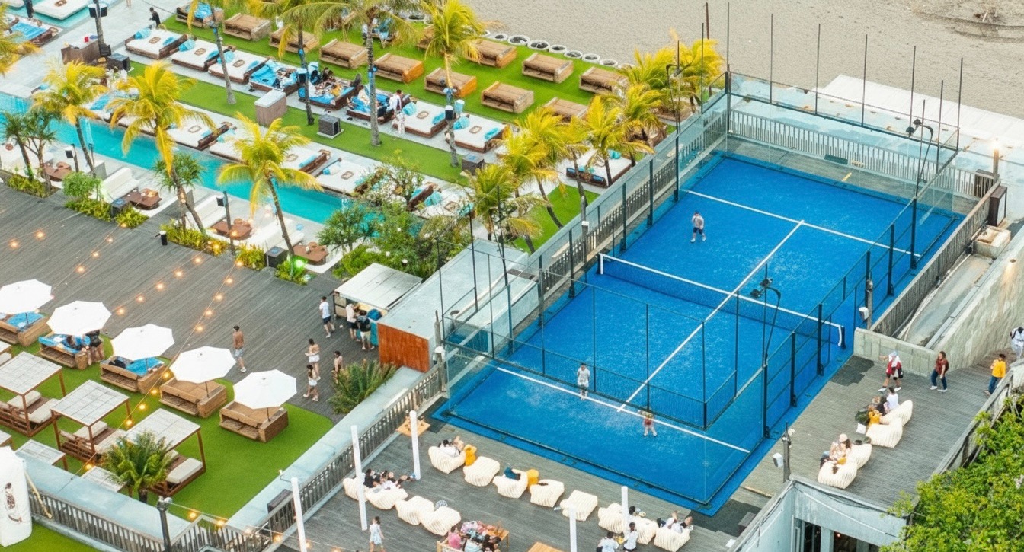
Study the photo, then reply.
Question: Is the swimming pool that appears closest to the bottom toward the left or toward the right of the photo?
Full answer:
The swimming pool that appears closest to the bottom appears in the left half of the scene.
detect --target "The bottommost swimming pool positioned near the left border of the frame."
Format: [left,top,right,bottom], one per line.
[0,99,408,252]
